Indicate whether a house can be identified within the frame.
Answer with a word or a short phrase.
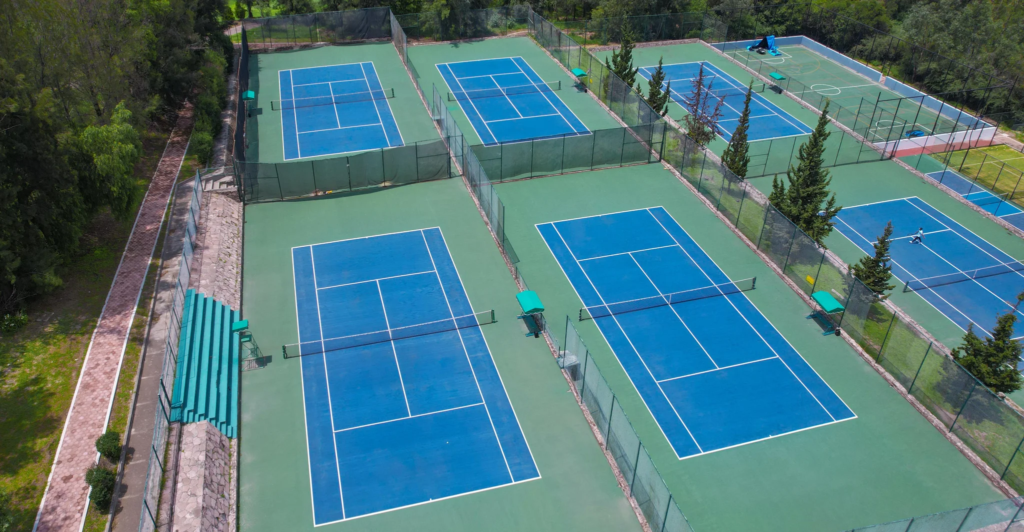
No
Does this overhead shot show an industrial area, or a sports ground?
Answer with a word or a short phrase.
sports ground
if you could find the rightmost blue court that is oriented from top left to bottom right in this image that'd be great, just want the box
[898,153,1024,234]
